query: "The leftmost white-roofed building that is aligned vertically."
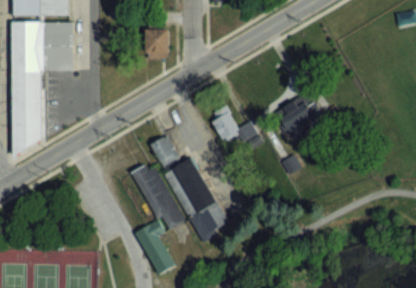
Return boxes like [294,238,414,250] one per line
[10,20,44,156]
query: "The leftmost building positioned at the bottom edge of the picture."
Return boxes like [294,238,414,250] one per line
[133,219,175,275]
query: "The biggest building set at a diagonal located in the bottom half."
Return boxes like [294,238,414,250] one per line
[166,159,227,240]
